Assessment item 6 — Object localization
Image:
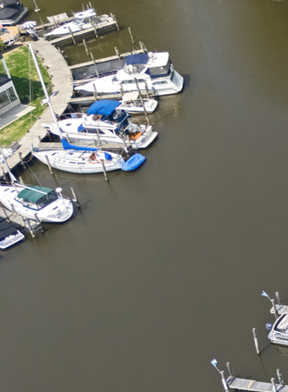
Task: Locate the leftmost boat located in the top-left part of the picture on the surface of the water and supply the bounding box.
[0,0,33,26]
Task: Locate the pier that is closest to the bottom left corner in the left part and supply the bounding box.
[0,198,44,235]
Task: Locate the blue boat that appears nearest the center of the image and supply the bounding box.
[121,157,146,173]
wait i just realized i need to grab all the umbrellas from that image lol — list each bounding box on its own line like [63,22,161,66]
[18,20,40,34]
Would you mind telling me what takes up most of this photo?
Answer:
water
